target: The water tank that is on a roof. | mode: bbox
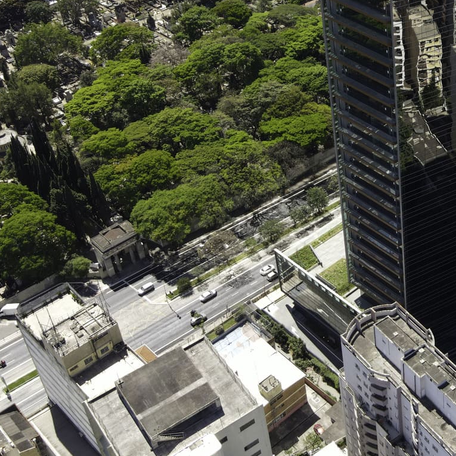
[262,355,291,387]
